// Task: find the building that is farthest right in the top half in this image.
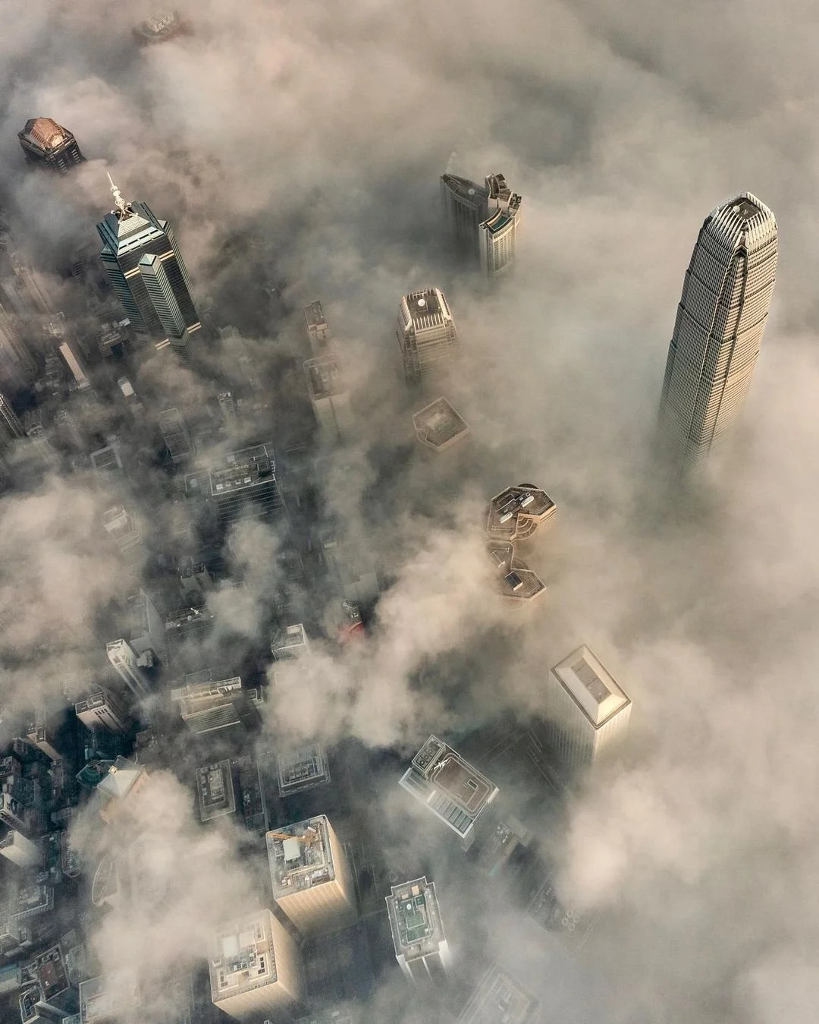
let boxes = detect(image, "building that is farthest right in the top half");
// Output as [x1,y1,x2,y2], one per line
[644,189,785,567]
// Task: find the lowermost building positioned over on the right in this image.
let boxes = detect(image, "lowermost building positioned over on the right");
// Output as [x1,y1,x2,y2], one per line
[457,964,542,1024]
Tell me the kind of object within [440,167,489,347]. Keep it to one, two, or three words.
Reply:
building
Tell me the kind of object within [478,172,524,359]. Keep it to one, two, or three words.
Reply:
building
